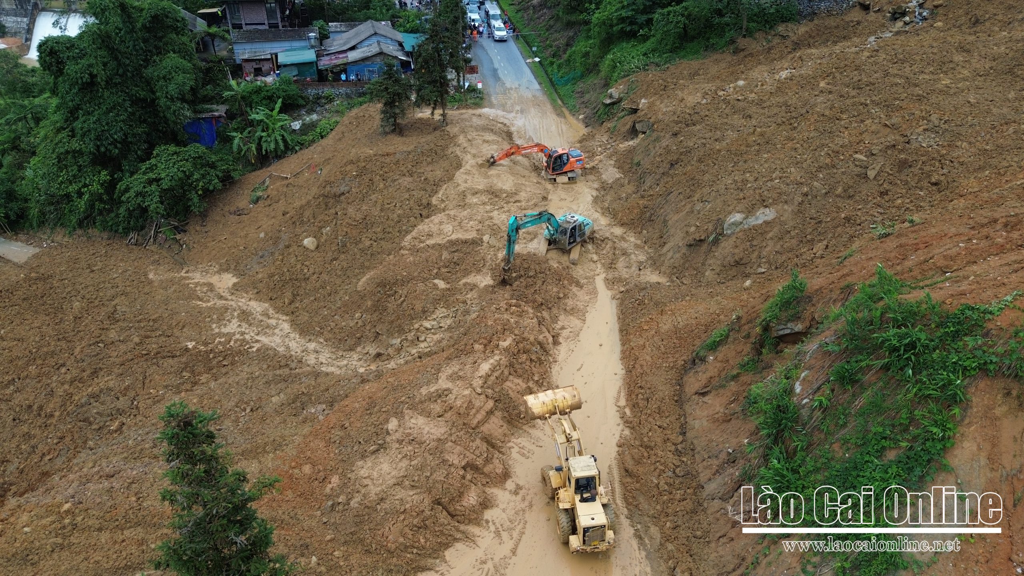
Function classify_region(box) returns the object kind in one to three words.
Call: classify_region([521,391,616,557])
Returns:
work vehicle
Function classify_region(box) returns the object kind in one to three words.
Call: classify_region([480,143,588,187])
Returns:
work vehicle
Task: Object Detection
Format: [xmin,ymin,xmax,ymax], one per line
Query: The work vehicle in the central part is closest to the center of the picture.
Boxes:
[496,210,600,282]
